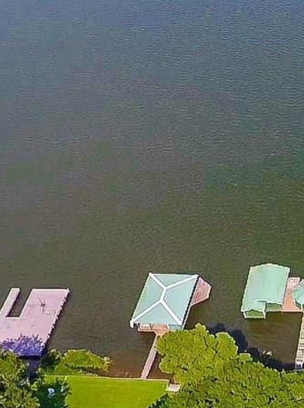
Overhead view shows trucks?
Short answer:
No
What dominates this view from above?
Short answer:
water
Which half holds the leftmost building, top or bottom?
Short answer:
bottom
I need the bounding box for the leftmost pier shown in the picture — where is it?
[0,287,71,357]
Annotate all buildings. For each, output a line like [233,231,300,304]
[239,262,290,327]
[131,272,198,337]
